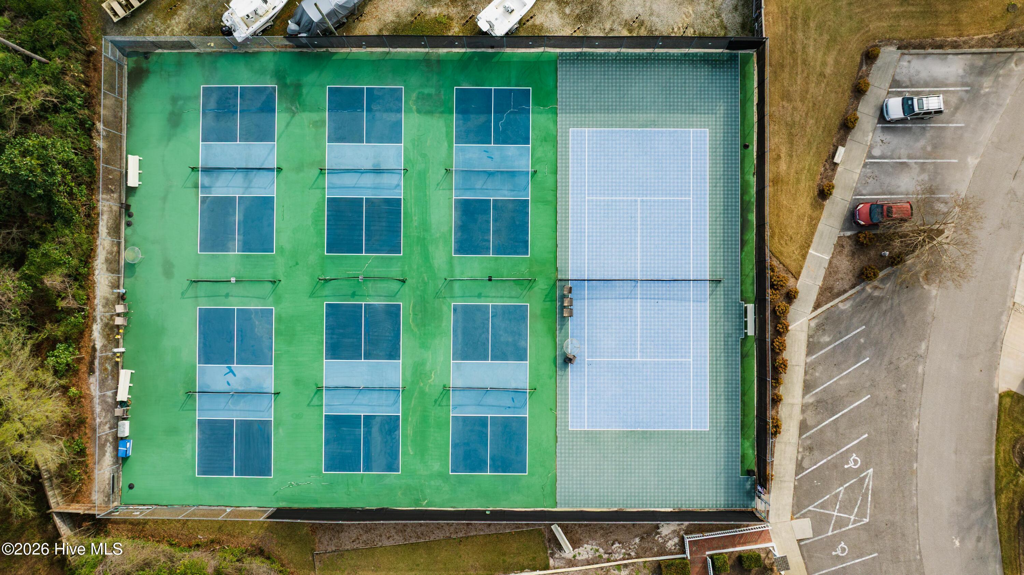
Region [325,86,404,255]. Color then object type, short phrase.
blue sports court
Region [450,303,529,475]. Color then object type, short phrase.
blue sports court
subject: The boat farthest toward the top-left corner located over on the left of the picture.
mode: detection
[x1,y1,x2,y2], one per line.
[102,0,149,24]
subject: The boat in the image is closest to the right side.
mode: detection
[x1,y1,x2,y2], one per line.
[480,0,540,36]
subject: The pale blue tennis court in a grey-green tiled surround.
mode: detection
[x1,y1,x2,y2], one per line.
[556,52,755,508]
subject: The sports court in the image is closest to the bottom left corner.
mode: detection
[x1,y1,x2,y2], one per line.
[196,307,274,478]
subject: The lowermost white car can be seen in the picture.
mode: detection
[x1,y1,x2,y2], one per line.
[878,92,943,122]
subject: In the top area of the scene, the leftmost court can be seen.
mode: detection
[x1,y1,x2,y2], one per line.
[198,85,277,253]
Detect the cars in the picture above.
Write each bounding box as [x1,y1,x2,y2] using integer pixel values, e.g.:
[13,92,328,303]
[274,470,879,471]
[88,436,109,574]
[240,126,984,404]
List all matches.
[851,197,915,227]
[878,92,943,122]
